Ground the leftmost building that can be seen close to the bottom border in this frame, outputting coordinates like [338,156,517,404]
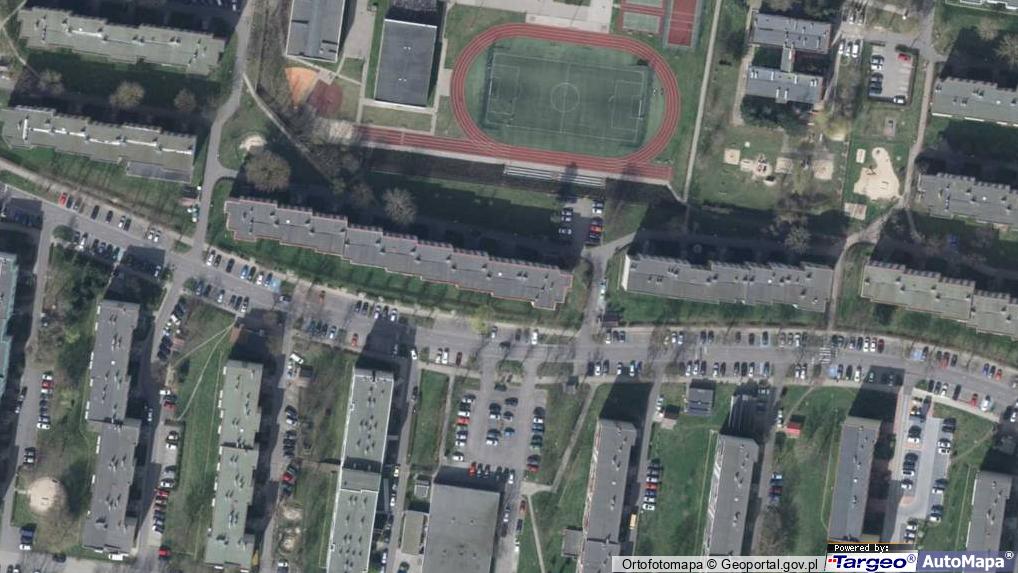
[84,421,141,554]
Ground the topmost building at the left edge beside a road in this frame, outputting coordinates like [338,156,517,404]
[17,5,226,76]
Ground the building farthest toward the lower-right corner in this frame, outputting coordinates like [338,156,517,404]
[961,472,1013,573]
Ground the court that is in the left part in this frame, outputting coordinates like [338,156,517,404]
[308,79,342,112]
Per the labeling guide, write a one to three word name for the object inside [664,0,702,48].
sports court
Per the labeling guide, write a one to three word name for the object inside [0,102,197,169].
building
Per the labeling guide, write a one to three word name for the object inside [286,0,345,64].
building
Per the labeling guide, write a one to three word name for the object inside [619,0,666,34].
basketball court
